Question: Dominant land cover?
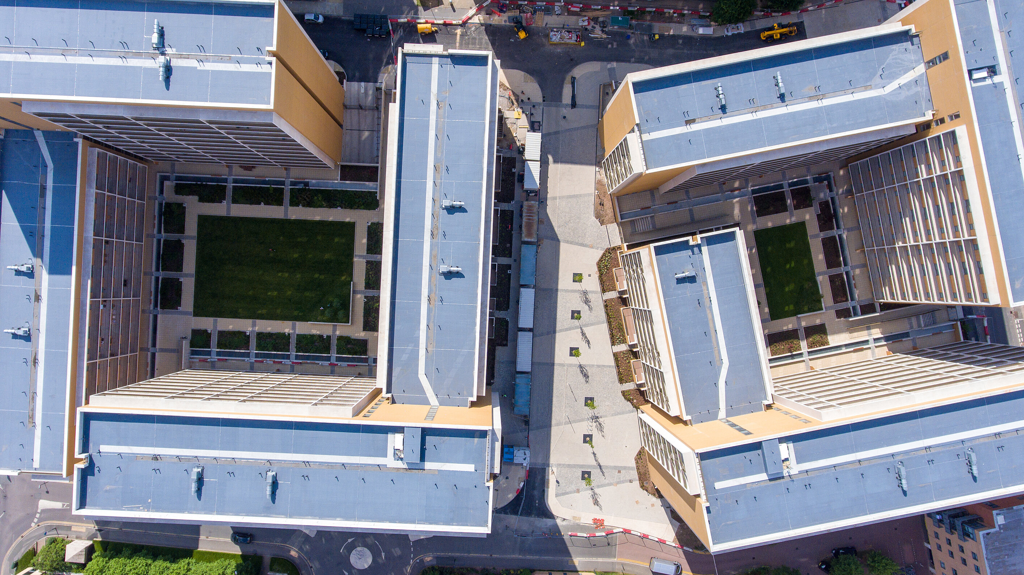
buildings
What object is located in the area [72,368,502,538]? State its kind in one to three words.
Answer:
building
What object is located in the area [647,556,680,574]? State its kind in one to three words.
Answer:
vehicle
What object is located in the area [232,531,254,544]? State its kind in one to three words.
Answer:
vehicle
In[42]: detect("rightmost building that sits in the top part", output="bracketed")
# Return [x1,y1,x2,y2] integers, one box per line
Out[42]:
[845,0,1024,308]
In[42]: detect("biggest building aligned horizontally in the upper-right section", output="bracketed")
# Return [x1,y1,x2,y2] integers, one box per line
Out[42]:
[595,21,934,200]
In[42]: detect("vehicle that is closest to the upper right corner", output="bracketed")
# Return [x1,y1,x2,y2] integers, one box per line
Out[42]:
[760,21,794,44]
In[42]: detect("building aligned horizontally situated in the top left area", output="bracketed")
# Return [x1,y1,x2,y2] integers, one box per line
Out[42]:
[0,0,350,169]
